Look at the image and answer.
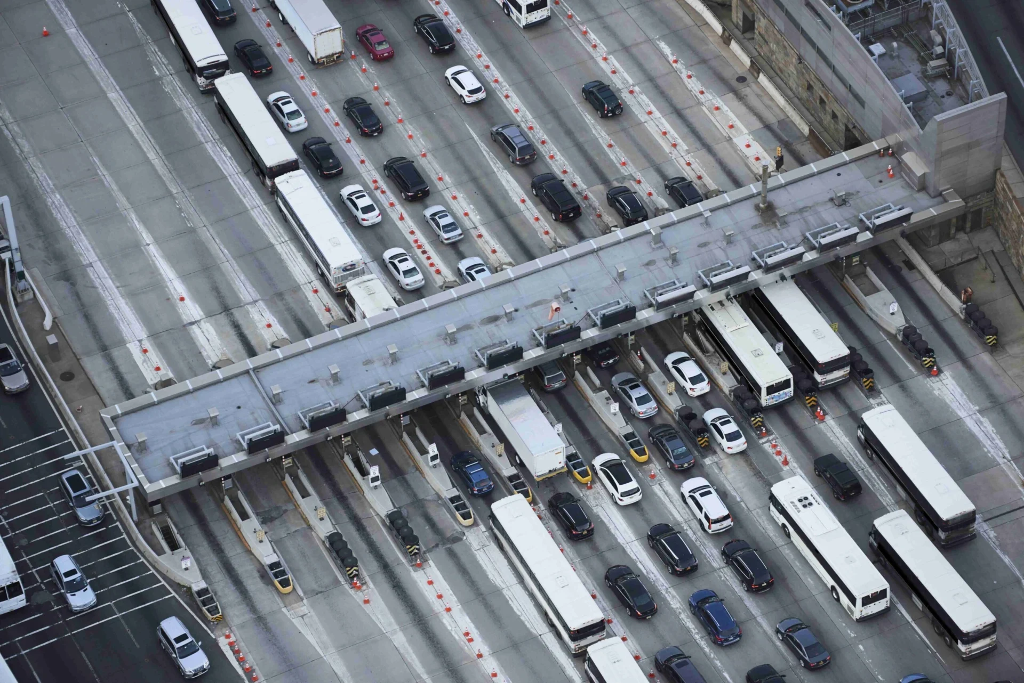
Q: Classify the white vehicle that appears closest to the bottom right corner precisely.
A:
bus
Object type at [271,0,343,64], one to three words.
trailer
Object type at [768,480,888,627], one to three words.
bus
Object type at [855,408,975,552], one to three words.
bus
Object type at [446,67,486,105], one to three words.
car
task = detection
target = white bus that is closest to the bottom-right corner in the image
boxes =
[868,511,994,665]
